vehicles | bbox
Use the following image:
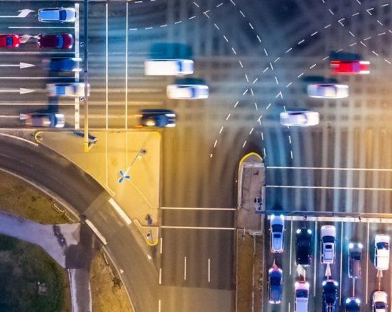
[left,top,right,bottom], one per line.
[138,110,176,127]
[268,216,286,254]
[292,280,311,312]
[266,266,285,304]
[295,227,314,267]
[319,225,337,264]
[38,5,76,23]
[25,111,64,128]
[168,83,208,100]
[47,82,84,98]
[146,57,192,76]
[330,58,368,75]
[37,31,74,50]
[321,279,339,312]
[307,82,348,99]
[345,297,362,312]
[281,108,319,127]
[371,289,389,312]
[347,241,364,279]
[373,232,392,272]
[45,55,84,72]
[0,31,22,49]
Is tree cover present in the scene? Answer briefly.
No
